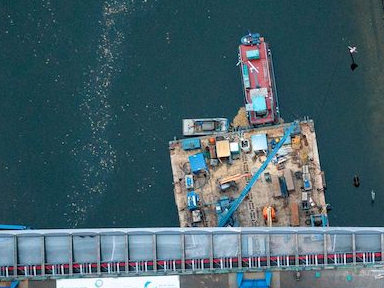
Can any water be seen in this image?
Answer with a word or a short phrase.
Yes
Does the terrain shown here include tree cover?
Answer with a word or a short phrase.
No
